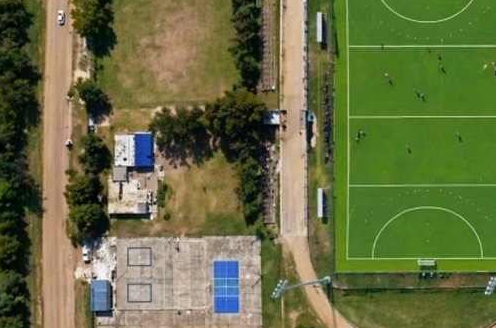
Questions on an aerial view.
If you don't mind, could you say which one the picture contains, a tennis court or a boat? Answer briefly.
tennis court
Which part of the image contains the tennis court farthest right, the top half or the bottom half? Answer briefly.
bottom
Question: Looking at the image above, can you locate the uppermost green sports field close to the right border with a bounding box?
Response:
[335,0,496,273]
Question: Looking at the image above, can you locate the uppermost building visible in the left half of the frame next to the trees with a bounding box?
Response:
[114,133,163,182]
